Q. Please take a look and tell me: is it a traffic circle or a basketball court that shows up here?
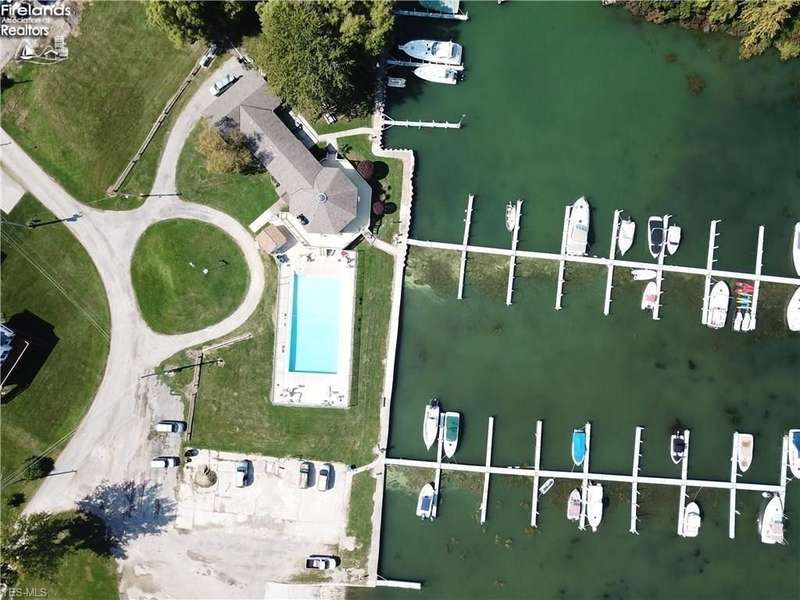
traffic circle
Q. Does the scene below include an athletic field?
No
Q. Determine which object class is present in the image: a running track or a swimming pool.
swimming pool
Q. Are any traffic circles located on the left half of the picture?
Yes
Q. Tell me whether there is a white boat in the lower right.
Yes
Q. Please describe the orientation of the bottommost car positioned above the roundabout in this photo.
at an angle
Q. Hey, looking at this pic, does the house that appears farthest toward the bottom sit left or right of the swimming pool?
to the left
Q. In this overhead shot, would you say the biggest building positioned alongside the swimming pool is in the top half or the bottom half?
top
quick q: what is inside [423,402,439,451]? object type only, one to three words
boat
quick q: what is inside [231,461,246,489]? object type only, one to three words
car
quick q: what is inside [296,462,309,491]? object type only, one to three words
vehicle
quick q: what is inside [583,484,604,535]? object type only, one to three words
boat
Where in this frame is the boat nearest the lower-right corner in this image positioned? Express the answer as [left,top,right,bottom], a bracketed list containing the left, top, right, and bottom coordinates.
[760,498,789,546]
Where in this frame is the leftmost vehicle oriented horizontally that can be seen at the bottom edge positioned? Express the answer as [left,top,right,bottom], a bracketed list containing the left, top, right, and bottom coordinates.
[305,557,336,573]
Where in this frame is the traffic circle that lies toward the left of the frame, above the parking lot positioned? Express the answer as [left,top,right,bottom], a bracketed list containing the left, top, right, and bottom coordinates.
[114,202,265,358]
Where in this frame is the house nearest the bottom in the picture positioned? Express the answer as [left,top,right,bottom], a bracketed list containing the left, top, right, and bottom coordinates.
[0,327,34,399]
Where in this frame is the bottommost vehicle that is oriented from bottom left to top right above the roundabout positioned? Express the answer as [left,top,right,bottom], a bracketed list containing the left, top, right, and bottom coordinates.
[207,70,239,98]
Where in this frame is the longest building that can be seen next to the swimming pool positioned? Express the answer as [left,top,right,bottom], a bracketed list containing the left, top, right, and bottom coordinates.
[211,71,378,248]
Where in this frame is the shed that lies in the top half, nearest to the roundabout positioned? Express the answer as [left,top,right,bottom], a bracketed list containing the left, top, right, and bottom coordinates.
[257,223,288,254]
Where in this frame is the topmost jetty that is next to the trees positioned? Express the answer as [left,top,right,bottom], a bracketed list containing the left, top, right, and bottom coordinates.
[397,7,468,22]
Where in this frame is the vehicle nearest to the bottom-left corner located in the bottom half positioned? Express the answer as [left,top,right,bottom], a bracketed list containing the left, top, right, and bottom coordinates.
[147,458,177,471]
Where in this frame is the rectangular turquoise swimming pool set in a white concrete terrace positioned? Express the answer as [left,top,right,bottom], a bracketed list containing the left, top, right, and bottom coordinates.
[272,246,358,407]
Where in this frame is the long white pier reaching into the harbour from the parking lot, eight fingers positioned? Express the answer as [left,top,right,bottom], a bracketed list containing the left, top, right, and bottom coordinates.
[386,412,791,538]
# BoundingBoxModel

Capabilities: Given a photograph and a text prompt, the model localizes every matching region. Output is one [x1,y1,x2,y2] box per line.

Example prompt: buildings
[0,327,34,399]
[211,71,378,248]
[257,223,288,254]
